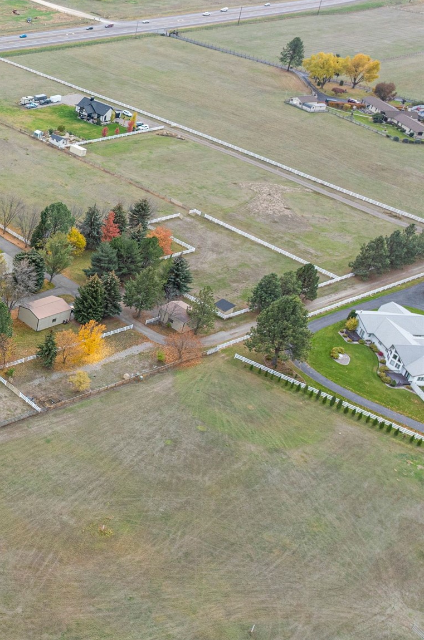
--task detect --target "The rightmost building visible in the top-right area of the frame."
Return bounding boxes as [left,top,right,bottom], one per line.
[364,97,424,139]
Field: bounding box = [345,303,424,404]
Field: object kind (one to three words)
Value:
house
